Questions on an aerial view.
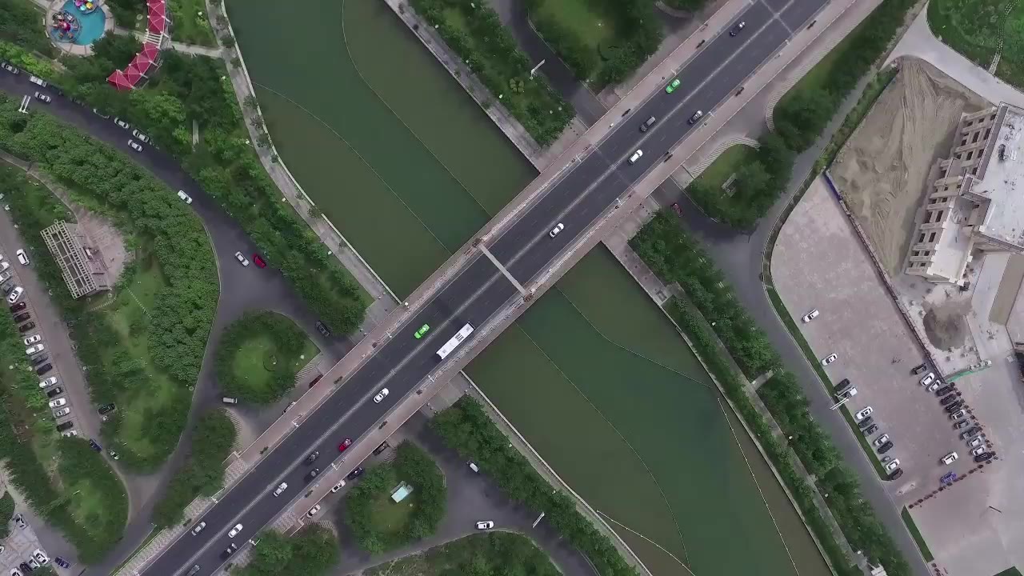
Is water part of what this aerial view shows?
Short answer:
Yes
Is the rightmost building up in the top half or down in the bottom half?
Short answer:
top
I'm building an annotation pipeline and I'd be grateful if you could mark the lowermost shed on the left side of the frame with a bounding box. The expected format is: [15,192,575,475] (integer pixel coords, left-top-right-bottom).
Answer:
[389,475,415,503]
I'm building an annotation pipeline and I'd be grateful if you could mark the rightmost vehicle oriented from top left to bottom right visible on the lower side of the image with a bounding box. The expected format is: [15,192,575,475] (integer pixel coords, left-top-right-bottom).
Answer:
[464,459,481,474]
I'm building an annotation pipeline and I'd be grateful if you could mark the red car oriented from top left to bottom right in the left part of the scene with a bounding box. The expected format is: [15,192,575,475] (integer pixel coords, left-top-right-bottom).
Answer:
[252,253,267,269]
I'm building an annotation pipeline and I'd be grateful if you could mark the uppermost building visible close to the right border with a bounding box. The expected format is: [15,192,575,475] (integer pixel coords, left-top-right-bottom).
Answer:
[901,101,1024,285]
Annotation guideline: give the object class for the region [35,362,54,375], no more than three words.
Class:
vehicle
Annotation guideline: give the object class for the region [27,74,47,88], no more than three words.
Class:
vehicle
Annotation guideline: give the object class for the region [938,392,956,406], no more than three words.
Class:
car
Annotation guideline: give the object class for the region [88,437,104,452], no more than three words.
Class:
car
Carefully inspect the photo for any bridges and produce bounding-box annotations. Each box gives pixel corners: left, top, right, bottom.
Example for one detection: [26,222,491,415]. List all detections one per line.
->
[110,0,858,576]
